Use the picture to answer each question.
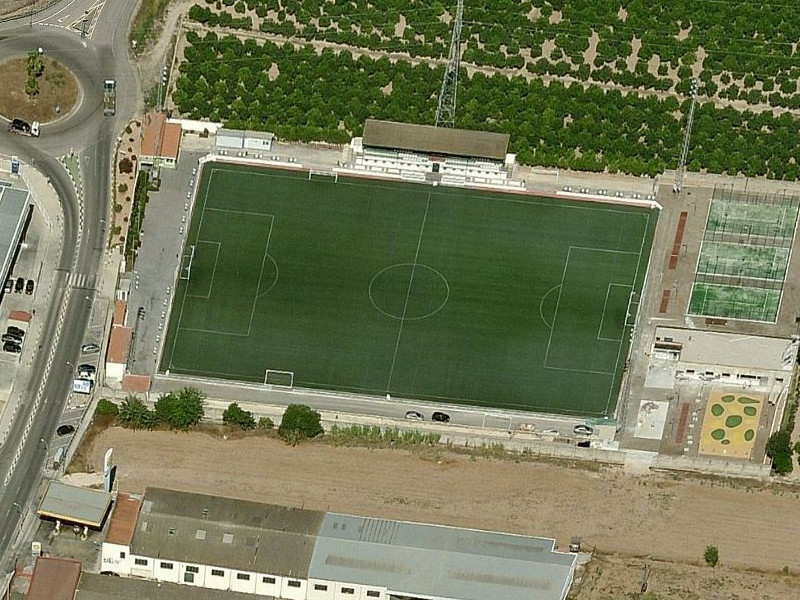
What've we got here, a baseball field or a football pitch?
football pitch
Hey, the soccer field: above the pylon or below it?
below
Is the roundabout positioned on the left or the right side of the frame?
left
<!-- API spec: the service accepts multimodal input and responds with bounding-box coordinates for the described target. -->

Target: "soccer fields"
[160,162,660,420]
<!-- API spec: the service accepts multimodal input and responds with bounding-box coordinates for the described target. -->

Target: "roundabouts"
[0,54,82,124]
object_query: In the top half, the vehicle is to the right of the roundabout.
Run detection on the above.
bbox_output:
[104,81,117,114]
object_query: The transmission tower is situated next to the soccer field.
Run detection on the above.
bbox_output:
[435,0,472,129]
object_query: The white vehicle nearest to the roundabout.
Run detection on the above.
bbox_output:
[10,123,39,137]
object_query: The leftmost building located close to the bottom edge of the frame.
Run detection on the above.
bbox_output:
[23,556,83,600]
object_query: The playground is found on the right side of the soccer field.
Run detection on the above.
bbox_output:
[698,391,764,459]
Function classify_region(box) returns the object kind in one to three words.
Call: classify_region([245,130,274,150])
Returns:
building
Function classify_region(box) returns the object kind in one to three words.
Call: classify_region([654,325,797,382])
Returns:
building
